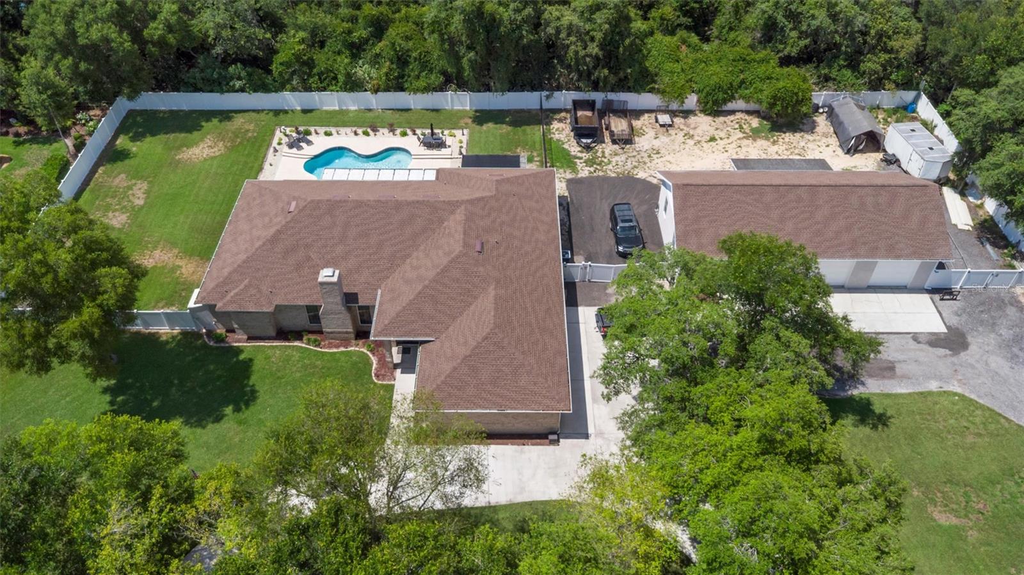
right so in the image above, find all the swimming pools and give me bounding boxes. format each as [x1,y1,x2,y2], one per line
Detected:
[300,144,415,180]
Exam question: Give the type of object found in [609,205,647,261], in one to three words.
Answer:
car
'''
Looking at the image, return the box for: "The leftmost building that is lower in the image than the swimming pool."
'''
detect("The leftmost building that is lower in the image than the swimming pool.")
[194,168,573,432]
